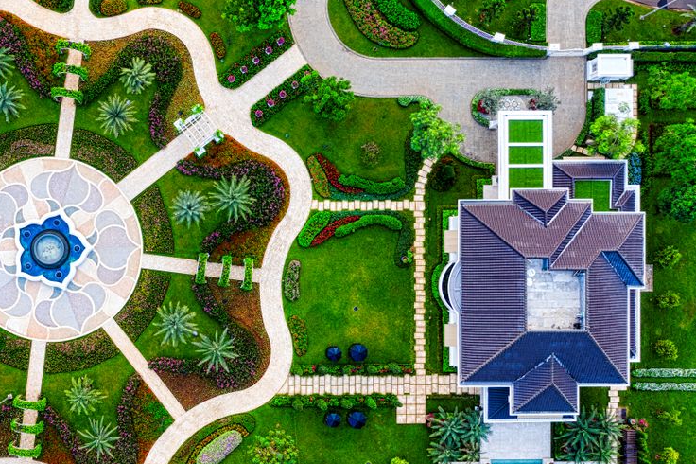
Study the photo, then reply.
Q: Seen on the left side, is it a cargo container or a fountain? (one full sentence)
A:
Visible on the left side is a fountain.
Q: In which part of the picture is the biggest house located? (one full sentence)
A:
Look in the right portion of the view to spot the biggest house.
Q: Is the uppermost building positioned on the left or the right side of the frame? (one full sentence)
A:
The uppermost building appears in the right half of the scene.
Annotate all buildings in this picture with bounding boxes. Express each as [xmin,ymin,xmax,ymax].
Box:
[432,111,653,423]
[587,53,633,88]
